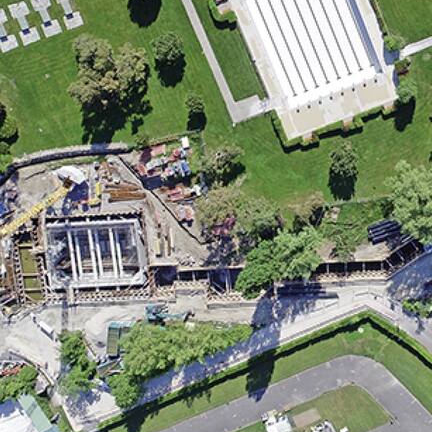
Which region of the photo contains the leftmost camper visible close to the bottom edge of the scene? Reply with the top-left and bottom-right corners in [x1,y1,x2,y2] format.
[266,409,289,432]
